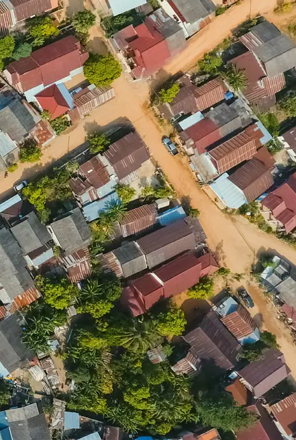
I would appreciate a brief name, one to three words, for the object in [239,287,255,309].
vehicle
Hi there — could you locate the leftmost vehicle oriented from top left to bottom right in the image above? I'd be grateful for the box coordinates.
[163,133,179,154]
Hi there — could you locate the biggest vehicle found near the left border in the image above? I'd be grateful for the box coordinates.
[12,179,30,194]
